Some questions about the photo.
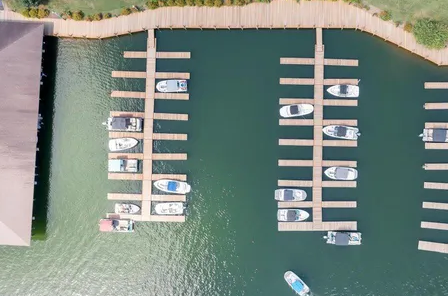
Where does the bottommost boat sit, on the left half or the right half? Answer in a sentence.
The bottommost boat sits on the right side.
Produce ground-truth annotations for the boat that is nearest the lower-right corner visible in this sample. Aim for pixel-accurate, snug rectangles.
[324,230,361,245]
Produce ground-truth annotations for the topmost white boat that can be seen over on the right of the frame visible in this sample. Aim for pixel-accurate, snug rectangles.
[327,84,359,97]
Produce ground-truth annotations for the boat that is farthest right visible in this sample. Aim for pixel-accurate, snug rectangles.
[419,128,448,142]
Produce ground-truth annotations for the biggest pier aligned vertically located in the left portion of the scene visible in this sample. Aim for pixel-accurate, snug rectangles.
[107,28,191,222]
